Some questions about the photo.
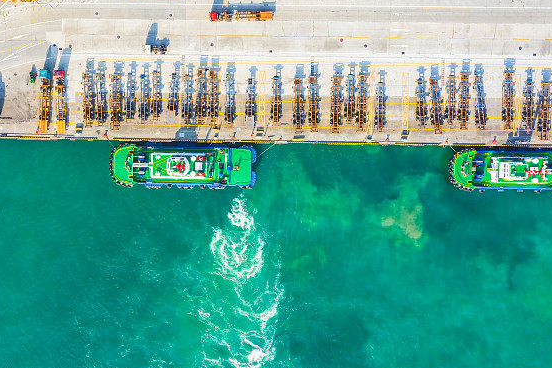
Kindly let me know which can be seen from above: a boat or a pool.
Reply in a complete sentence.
Of the two, only a boat appears.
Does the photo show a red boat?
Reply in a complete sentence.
No, there is no red boat in the image.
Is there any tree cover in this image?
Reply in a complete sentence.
No, the picture contains no tree cover.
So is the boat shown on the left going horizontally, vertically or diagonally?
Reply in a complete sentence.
The boat shown on the left is oriented horizontally.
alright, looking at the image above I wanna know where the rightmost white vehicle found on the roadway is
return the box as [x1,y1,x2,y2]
[144,42,167,55]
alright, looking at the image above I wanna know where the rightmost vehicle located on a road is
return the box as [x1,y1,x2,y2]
[210,9,275,22]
